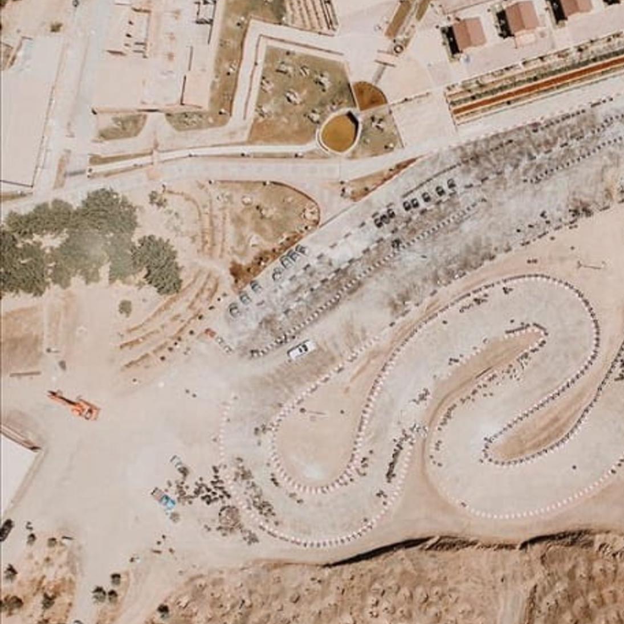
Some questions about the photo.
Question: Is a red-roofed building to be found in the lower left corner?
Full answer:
No, I can find no red-roofed building in the lower left corner.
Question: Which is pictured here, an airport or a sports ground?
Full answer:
What you see here is a sports ground.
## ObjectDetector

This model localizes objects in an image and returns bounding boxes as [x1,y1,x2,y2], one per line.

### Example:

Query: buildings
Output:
[452,16,487,59]
[563,0,595,24]
[0,35,63,187]
[92,0,227,115]
[505,0,541,41]
[0,427,46,526]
